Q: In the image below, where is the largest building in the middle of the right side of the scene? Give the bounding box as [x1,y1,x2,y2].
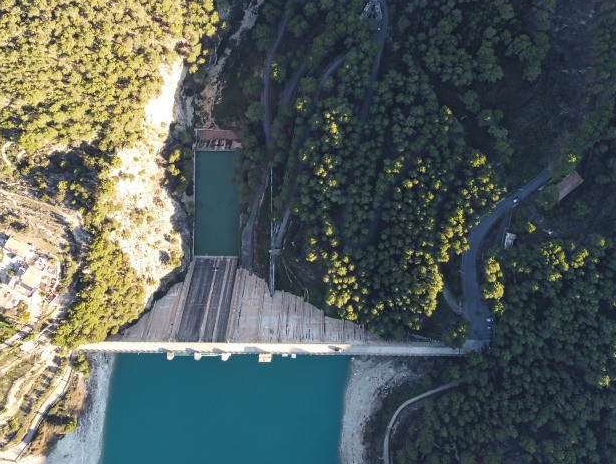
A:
[548,170,585,201]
